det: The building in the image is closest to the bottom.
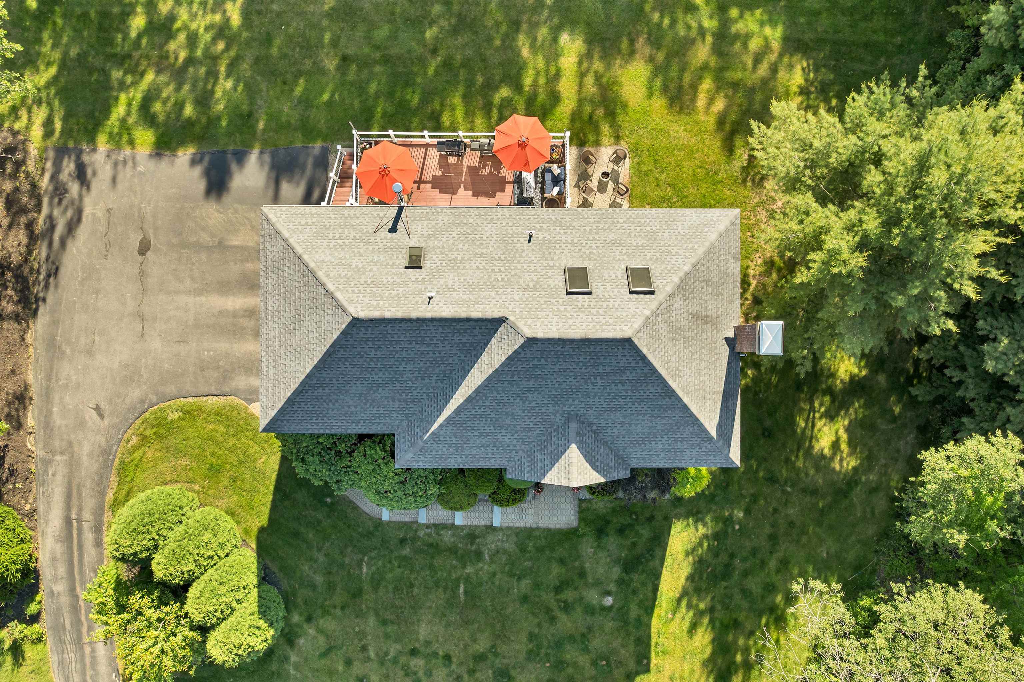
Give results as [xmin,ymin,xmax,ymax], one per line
[258,185,781,487]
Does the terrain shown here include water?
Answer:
No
